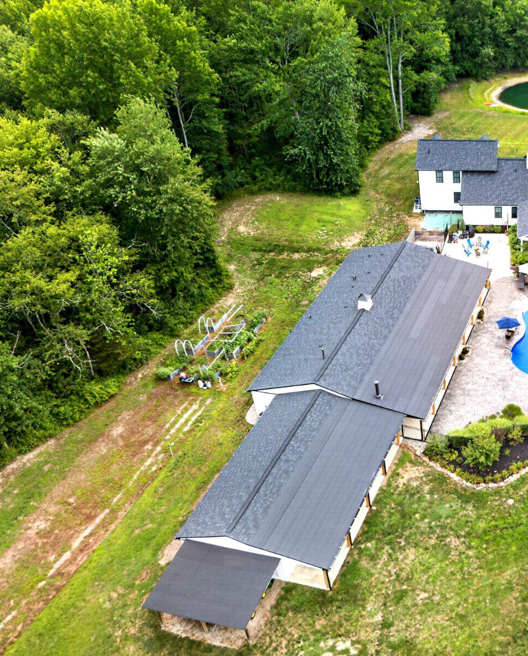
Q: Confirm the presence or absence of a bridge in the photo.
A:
No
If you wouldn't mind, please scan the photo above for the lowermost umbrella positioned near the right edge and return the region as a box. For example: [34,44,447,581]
[496,315,522,334]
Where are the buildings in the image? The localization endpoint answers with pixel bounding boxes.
[140,240,493,647]
[414,132,528,250]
